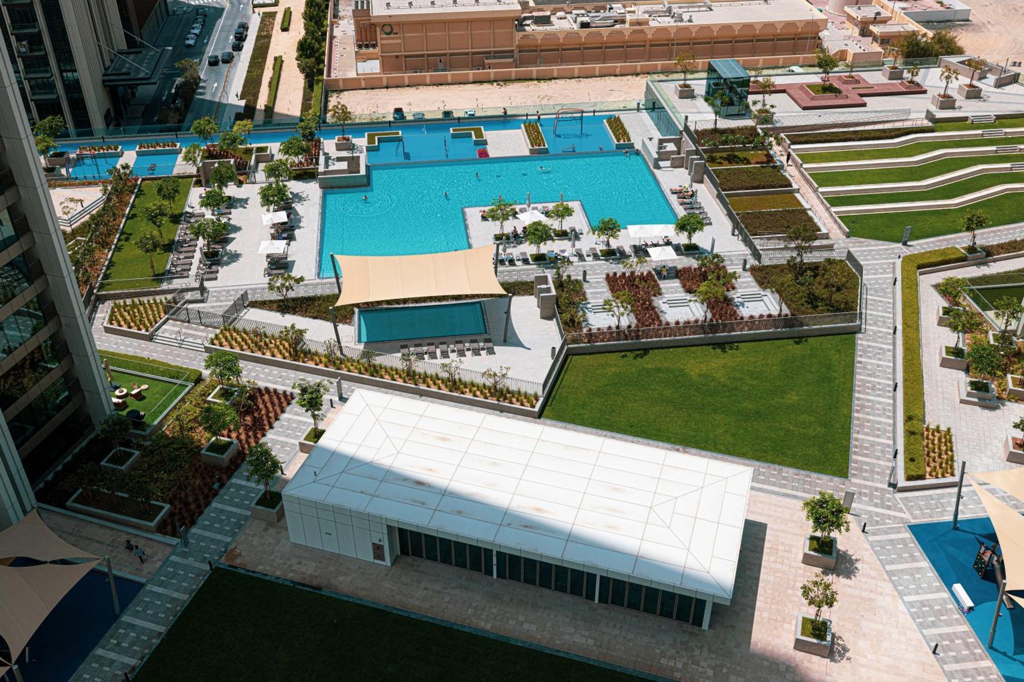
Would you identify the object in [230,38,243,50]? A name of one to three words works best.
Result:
vehicle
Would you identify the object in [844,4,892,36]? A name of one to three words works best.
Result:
shed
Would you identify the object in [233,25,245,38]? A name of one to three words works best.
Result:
vehicle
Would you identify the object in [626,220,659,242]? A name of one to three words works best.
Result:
umbrella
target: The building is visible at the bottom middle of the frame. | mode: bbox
[282,389,753,632]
